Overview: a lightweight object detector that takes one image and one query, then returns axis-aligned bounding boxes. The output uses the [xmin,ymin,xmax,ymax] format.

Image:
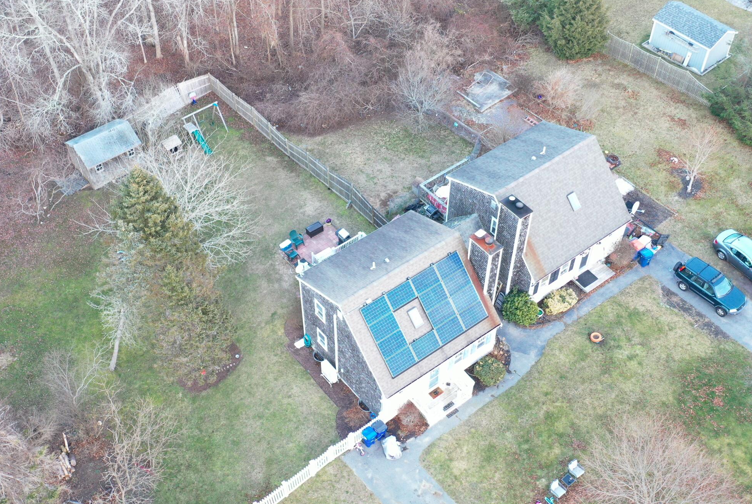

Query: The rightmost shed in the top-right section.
[642,1,737,76]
